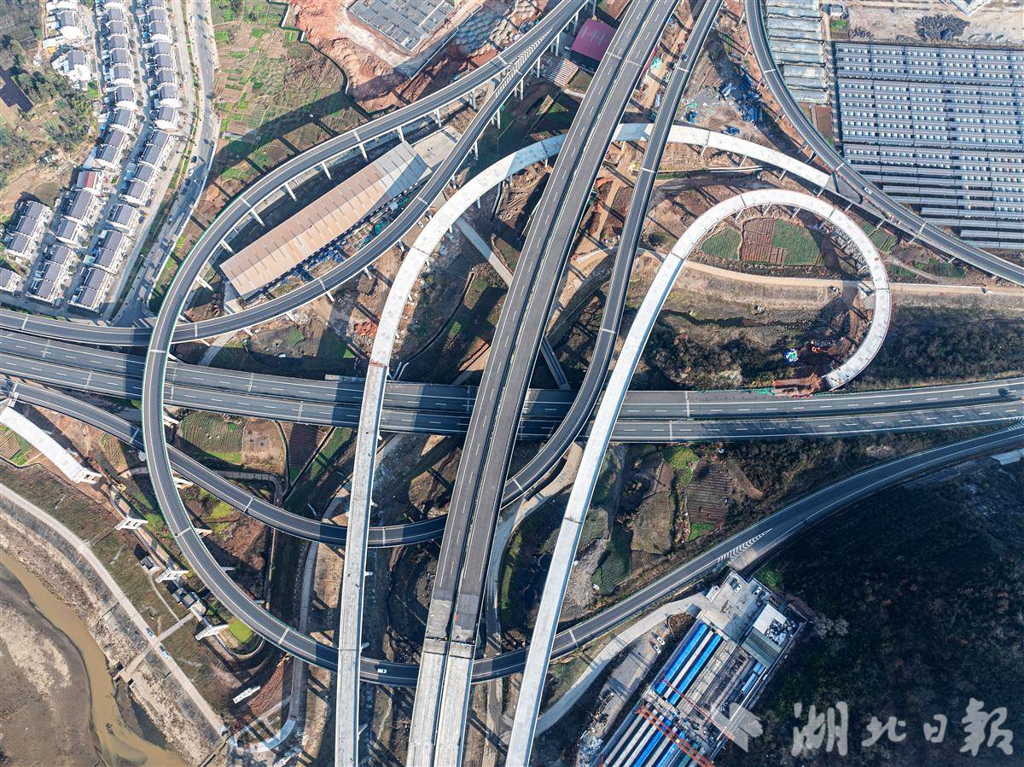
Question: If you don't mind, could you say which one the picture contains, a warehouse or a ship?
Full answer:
It is a warehouse that can be seen here.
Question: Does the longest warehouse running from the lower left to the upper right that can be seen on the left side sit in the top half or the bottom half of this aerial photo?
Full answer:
The longest warehouse running from the lower left to the upper right that can be seen on the left side is in the top half of the image.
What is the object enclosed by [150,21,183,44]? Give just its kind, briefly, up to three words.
house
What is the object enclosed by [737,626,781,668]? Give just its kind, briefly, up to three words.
shed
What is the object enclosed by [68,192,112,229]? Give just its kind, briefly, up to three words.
house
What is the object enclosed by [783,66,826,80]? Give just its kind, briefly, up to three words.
greenhouse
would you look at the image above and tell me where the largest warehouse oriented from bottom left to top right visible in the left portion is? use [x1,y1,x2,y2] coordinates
[220,141,434,299]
